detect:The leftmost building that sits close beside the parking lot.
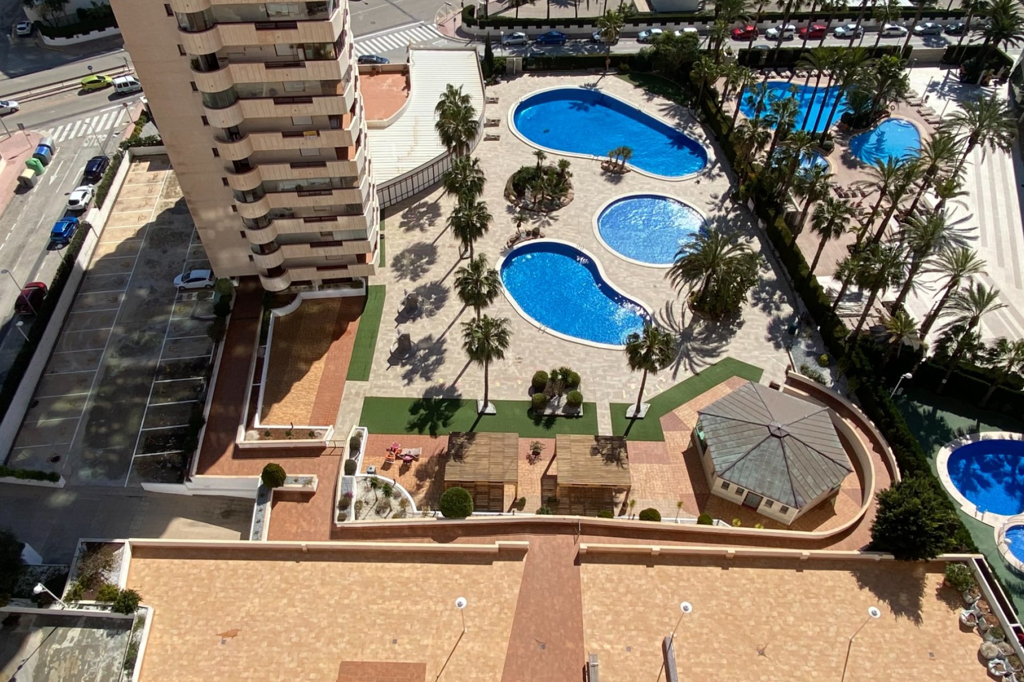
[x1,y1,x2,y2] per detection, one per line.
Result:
[105,0,386,303]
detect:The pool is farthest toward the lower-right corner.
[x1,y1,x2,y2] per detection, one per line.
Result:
[994,512,1024,568]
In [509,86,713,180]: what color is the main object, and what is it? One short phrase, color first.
blue swimming pool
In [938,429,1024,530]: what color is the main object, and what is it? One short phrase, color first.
blue swimming pool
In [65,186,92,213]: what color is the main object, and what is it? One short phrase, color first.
white car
